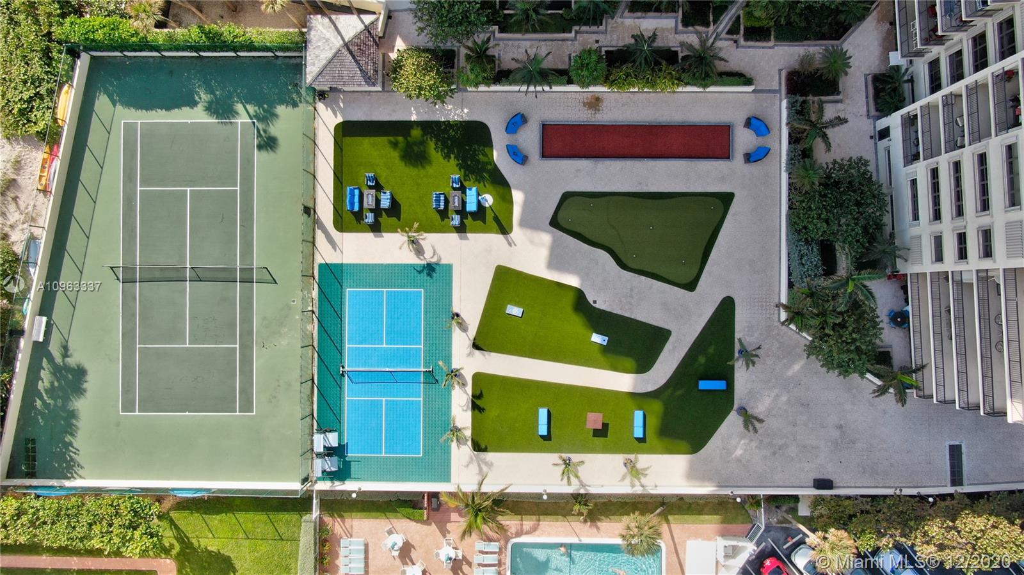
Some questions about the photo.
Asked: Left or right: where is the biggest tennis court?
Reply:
left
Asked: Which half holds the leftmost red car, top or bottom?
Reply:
bottom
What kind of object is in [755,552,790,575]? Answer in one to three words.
car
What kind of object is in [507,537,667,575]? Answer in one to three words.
swimming pool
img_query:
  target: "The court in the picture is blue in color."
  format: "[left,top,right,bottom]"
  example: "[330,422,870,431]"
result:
[316,263,452,482]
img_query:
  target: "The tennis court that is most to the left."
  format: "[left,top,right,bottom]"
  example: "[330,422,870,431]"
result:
[6,55,313,481]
